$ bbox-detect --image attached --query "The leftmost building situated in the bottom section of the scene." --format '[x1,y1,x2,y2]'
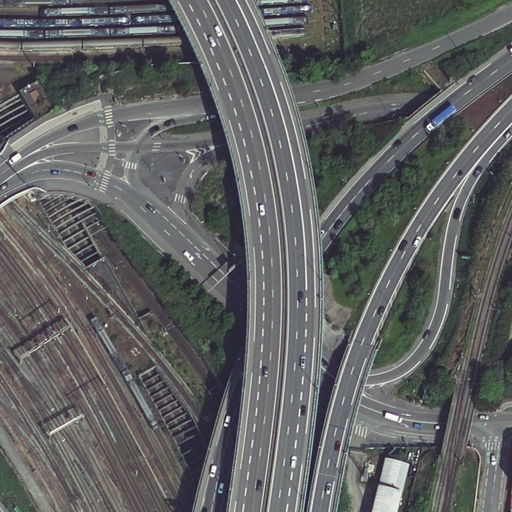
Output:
[370,457,410,512]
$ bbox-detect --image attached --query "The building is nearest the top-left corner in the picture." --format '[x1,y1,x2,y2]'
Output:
[20,81,44,118]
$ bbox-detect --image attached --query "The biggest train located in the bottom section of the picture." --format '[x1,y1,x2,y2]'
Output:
[90,316,160,427]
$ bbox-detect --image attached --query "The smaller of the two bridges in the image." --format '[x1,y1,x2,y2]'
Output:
[437,366,480,474]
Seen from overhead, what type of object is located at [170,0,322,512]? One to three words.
bridge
